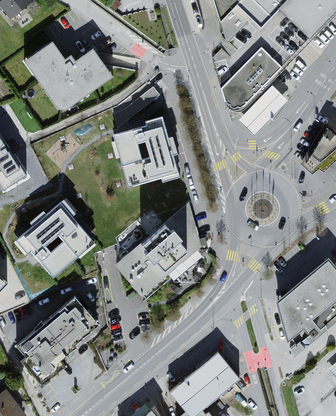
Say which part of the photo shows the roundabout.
right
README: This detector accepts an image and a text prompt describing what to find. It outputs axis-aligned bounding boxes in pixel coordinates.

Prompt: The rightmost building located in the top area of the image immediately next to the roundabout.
[302,128,336,174]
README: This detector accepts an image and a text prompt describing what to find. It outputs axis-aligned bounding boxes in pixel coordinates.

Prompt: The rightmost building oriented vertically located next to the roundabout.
[166,202,202,274]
